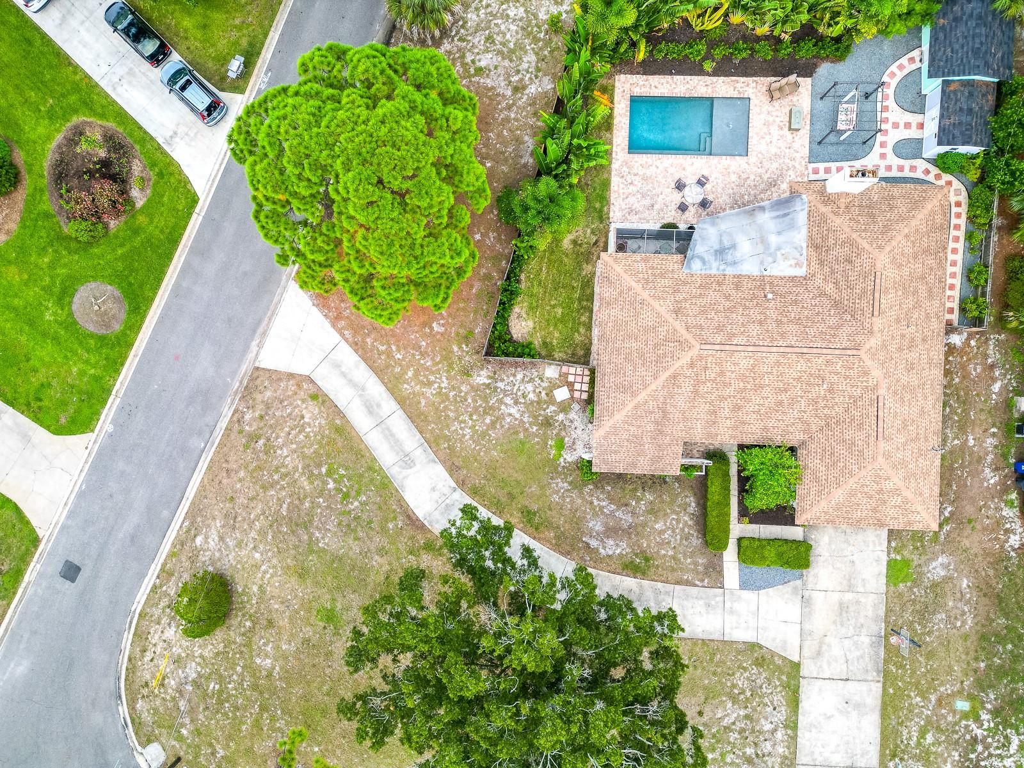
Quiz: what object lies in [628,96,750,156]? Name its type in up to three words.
swimming pool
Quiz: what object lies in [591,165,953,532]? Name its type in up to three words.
house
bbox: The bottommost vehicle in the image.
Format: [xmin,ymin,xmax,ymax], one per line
[161,56,230,130]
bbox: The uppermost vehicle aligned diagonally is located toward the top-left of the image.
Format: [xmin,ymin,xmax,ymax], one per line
[100,0,174,73]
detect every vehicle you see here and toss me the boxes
[100,0,174,73]
[12,0,52,18]
[161,56,230,130]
